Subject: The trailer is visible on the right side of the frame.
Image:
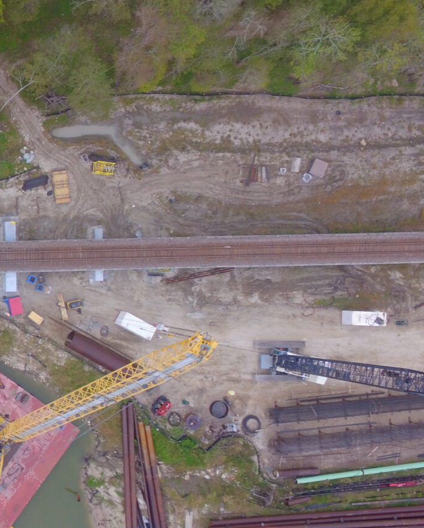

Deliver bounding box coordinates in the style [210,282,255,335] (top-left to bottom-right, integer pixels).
[337,310,388,325]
